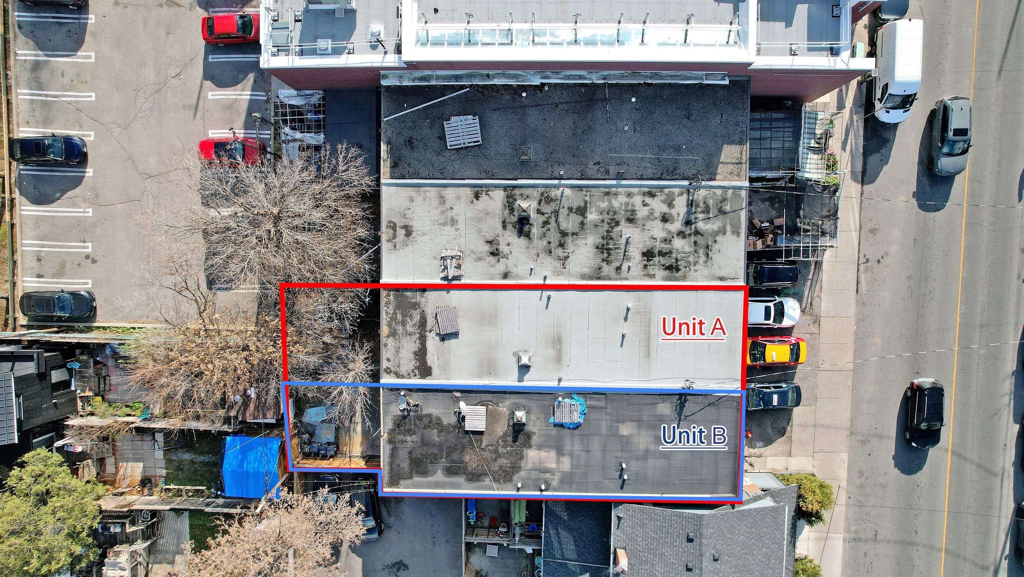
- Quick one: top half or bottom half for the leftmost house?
bottom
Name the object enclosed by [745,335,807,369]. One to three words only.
car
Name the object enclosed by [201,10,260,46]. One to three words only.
car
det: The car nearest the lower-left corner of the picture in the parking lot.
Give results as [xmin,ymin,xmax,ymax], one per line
[17,287,101,321]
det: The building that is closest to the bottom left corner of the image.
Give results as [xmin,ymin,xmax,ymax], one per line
[0,343,79,445]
